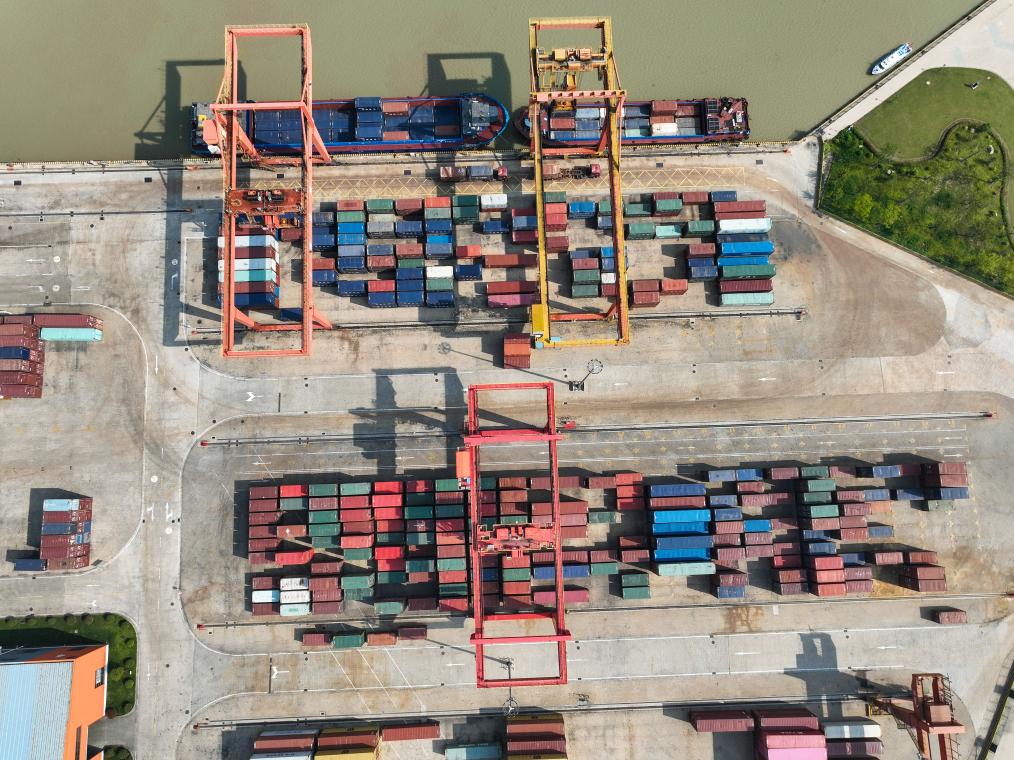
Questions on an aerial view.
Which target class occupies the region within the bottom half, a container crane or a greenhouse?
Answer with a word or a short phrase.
container crane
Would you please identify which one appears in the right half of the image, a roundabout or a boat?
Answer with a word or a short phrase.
boat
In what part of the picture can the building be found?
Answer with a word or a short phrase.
bottom left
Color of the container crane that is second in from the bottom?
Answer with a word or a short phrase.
red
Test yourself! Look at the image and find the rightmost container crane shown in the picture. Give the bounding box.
[868,670,967,760]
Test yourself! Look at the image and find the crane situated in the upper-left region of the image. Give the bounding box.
[203,22,337,360]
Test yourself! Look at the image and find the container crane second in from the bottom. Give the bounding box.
[456,382,571,690]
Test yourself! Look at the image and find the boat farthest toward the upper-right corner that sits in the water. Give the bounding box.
[872,37,917,72]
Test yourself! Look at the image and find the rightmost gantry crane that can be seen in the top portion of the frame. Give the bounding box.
[525,15,631,355]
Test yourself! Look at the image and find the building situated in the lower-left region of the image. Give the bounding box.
[0,644,110,760]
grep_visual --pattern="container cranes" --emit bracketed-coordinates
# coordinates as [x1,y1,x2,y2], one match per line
[868,670,967,760]
[525,15,631,355]
[456,382,571,690]
[203,22,337,360]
